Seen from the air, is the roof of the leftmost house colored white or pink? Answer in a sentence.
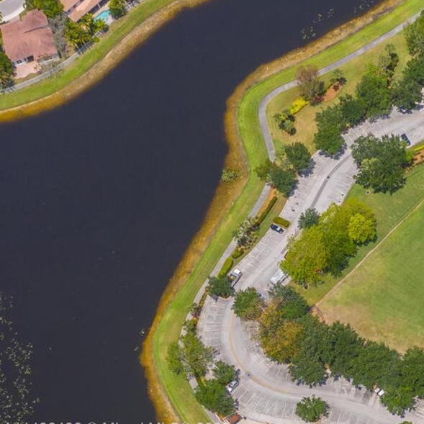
The roof of the leftmost house looks pink in the image.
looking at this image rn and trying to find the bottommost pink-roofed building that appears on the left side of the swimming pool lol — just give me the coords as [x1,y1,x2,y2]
[1,10,61,66]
